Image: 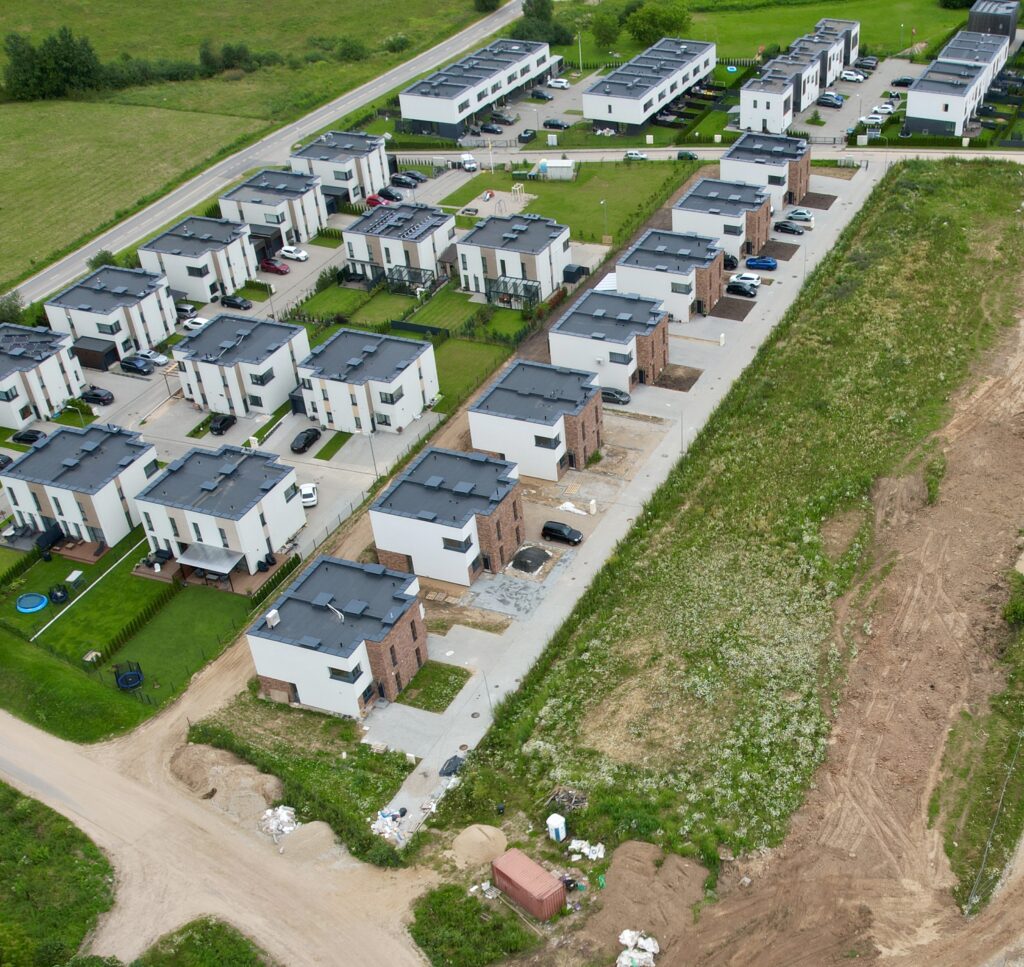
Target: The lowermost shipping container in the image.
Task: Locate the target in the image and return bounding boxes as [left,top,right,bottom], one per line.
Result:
[492,846,566,922]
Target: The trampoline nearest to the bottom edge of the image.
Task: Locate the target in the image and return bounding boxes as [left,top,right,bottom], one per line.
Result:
[108,656,143,693]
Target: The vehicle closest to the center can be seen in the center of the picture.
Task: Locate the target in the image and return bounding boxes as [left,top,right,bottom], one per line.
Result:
[540,520,583,546]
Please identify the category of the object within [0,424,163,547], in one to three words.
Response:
house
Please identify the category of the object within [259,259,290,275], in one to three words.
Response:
car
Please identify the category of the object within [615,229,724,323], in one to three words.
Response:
house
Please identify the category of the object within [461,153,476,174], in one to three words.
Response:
vehicle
